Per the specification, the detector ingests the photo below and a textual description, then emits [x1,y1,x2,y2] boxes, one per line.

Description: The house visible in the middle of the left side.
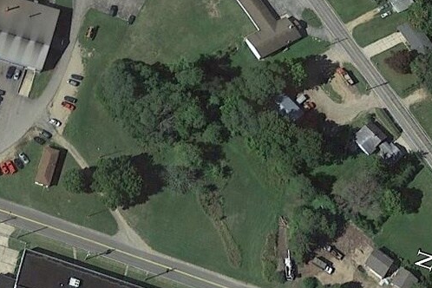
[36,147,60,187]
